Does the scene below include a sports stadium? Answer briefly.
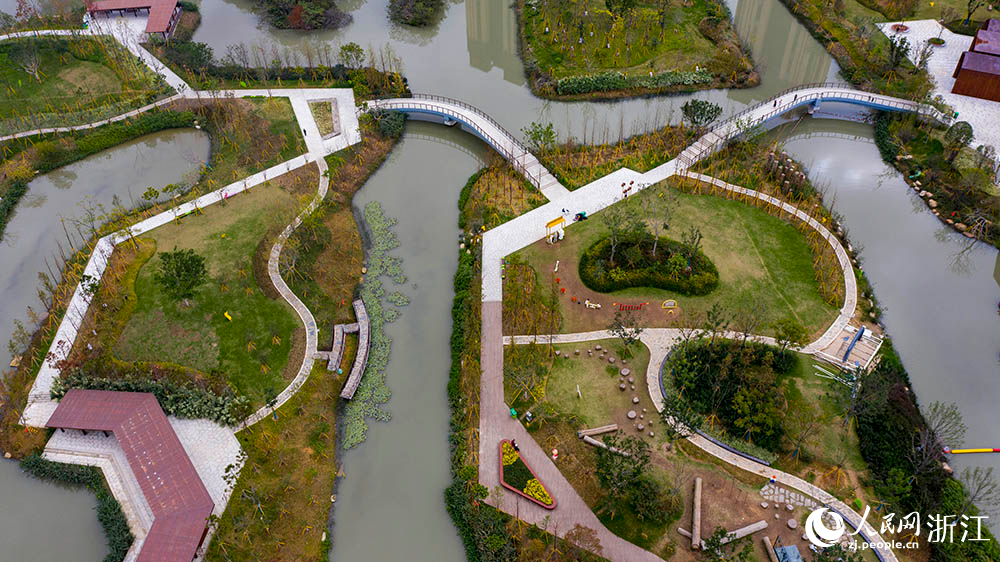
No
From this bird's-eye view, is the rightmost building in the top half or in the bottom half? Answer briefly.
top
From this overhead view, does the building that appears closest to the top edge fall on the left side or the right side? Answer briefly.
left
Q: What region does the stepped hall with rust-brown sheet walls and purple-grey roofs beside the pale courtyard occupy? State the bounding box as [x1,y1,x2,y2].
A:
[952,17,1000,102]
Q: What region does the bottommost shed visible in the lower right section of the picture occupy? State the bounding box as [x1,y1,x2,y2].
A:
[773,533,802,562]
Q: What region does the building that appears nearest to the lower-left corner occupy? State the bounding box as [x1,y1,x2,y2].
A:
[46,389,218,562]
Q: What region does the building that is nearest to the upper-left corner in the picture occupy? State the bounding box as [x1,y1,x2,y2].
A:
[88,0,181,48]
